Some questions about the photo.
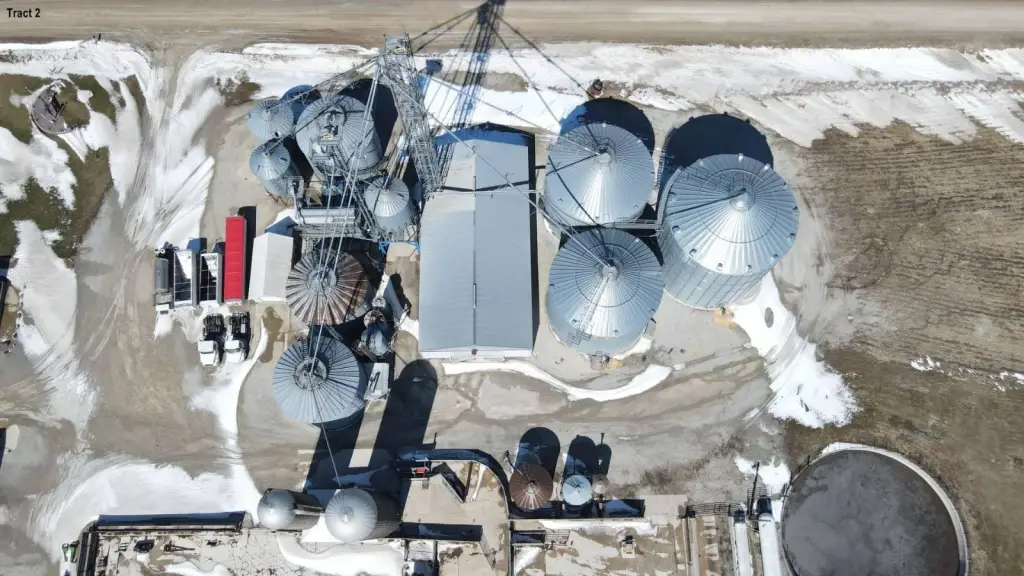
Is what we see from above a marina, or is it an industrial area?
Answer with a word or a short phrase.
industrial area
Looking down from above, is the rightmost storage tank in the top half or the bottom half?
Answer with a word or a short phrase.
bottom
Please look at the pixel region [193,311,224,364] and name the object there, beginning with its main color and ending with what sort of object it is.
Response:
white truck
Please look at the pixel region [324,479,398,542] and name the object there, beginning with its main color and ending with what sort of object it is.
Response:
gray silo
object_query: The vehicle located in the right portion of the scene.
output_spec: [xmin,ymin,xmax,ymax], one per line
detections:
[618,533,639,570]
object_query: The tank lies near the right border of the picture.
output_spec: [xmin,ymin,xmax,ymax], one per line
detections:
[777,450,975,576]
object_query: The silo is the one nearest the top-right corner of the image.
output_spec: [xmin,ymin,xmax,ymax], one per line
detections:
[645,154,799,318]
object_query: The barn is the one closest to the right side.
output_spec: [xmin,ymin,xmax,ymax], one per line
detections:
[420,141,534,357]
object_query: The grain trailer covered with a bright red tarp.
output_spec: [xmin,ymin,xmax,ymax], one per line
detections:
[223,217,252,306]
